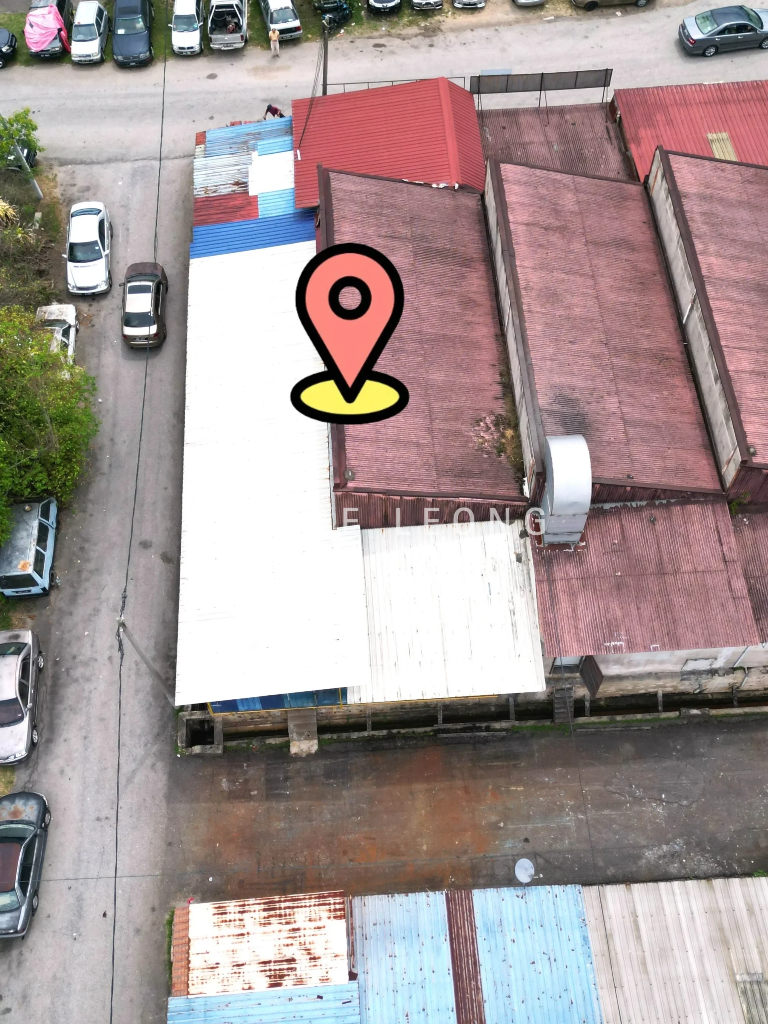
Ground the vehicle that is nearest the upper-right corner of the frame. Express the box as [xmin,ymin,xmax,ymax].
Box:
[678,5,768,58]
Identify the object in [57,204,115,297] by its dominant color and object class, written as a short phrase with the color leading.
white car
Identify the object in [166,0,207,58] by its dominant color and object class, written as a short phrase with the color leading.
white car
